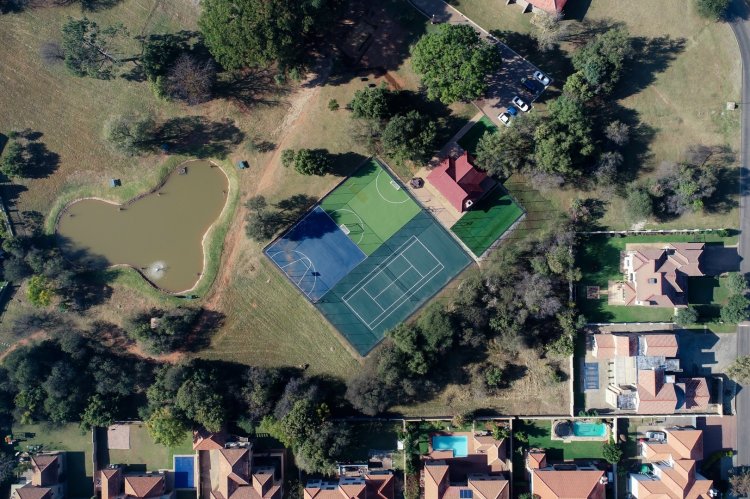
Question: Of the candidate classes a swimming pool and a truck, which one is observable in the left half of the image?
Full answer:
Visible in the left half of the image is a swimming pool.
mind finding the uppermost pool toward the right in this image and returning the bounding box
[584,361,600,390]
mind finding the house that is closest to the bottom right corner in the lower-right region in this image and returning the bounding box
[631,424,713,499]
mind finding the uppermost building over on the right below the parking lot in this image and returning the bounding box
[426,151,489,213]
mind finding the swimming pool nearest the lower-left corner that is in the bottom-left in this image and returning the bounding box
[172,455,196,489]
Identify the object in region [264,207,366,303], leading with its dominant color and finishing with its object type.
blue basketball court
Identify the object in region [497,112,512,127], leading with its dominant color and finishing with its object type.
white car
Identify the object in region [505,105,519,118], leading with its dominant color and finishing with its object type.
blue vehicle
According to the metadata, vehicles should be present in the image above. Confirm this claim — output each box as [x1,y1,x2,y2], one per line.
[497,112,512,127]
[521,78,539,94]
[512,96,529,111]
[505,105,519,118]
[533,70,552,86]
